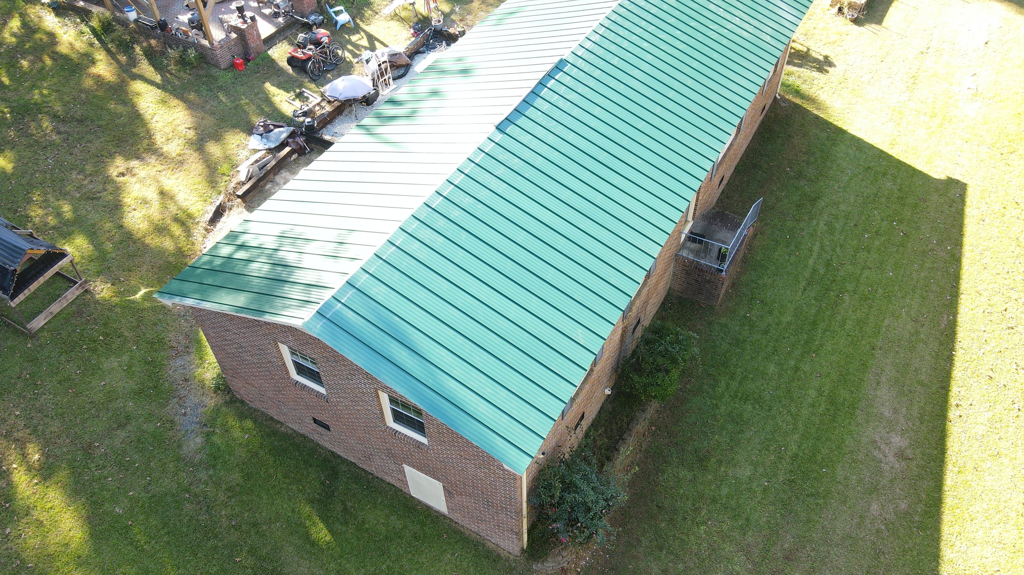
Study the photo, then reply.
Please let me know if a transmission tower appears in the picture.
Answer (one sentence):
No, no transmission tower is visible in the scene.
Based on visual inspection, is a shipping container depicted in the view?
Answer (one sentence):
No, there is no shipping container in the image.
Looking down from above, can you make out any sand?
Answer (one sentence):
No, the picture contains no sand.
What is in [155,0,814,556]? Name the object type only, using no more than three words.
house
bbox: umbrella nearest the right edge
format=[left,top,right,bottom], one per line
[323,70,372,118]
